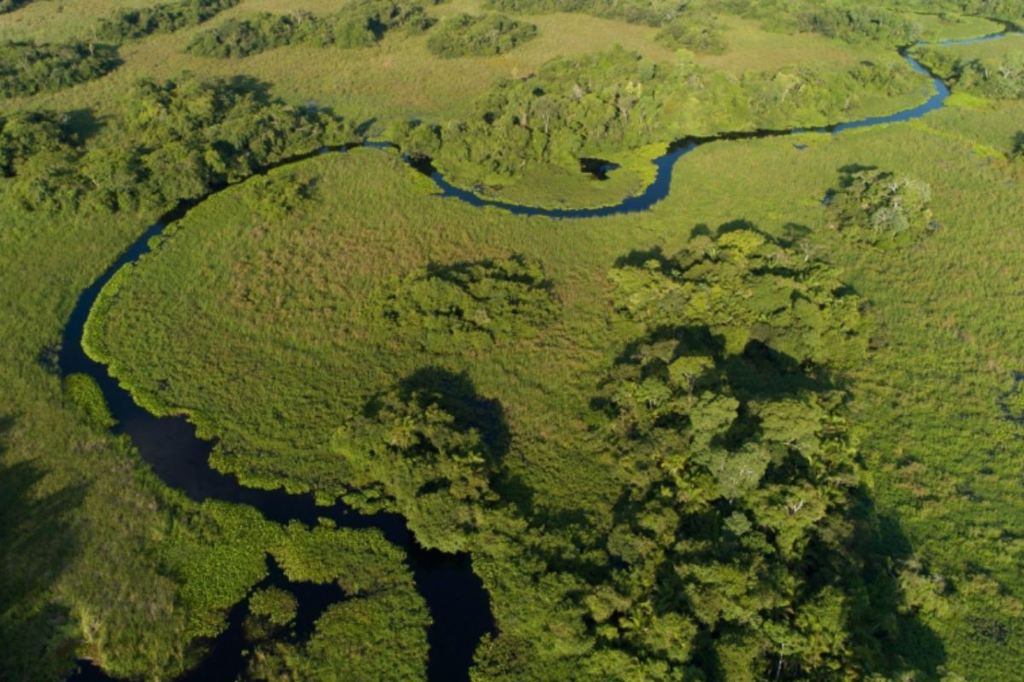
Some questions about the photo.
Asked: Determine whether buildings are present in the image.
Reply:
No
